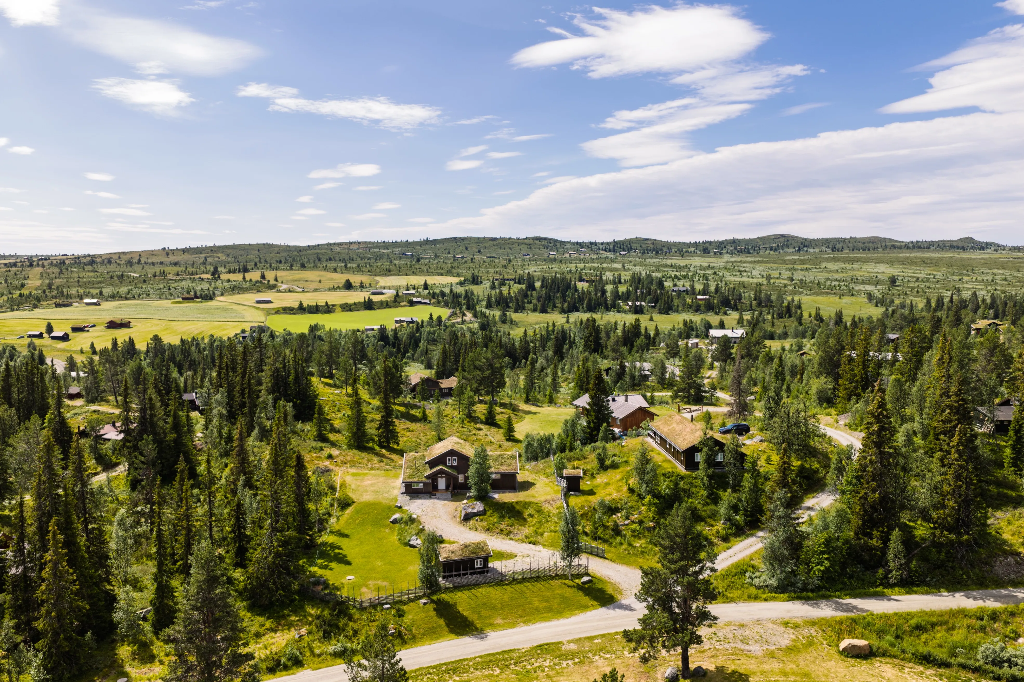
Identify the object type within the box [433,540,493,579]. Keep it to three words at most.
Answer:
building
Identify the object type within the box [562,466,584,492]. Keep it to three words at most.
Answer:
shed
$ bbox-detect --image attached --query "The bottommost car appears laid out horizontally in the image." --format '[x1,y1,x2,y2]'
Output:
[718,423,750,435]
